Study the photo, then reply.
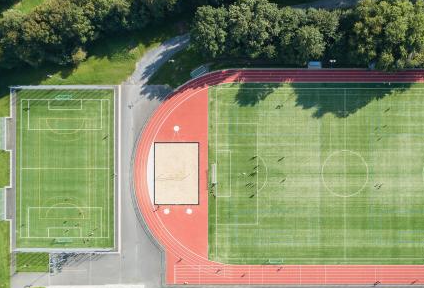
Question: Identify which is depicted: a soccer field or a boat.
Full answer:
The image shows a soccer field.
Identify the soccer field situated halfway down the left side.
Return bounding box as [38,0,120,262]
[6,86,118,253]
